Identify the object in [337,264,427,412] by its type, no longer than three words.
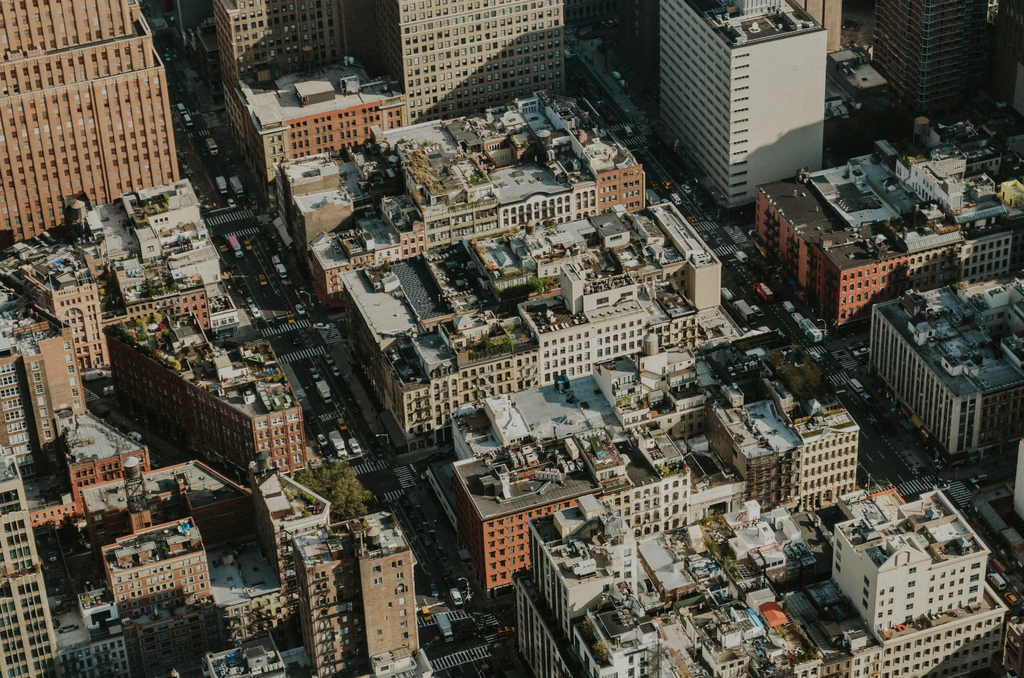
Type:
building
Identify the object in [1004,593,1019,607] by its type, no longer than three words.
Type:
car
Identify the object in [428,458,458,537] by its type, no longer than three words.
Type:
building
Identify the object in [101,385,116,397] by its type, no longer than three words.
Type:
vehicle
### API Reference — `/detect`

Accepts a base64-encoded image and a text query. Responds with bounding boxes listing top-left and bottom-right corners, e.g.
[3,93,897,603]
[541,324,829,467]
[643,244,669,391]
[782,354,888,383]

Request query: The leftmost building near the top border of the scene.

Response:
[0,0,176,244]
